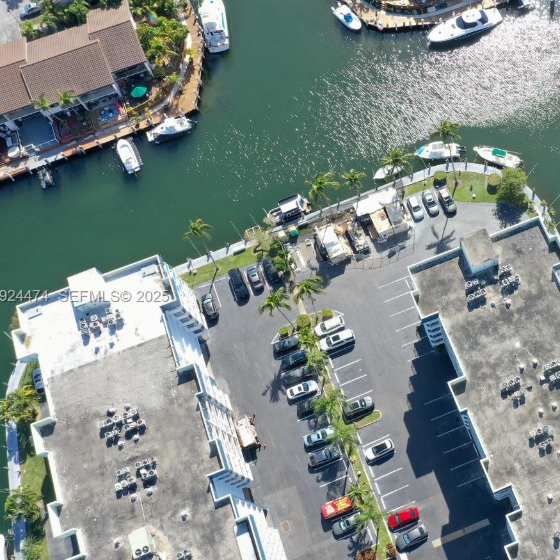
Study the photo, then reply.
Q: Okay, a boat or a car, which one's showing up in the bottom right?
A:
car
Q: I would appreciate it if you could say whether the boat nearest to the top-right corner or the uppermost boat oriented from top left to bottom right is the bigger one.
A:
the boat nearest to the top-right corner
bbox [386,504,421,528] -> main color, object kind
red car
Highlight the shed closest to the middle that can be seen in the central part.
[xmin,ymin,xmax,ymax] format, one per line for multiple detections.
[316,225,346,264]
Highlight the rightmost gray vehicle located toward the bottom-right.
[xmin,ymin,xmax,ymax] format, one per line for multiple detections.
[394,524,430,549]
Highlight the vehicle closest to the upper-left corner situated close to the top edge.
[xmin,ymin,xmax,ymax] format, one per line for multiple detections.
[17,3,45,22]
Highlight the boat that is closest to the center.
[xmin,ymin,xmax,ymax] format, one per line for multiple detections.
[267,199,312,226]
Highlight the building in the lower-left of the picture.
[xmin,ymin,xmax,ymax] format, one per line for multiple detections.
[11,255,290,560]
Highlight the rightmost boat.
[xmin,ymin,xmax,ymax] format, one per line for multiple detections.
[470,145,525,170]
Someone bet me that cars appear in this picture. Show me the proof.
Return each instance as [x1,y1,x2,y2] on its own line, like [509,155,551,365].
[319,328,356,351]
[286,382,320,401]
[394,524,430,549]
[201,292,221,322]
[17,3,45,22]
[245,265,265,294]
[293,394,323,416]
[306,447,342,468]
[386,504,421,528]
[30,367,47,397]
[437,186,457,216]
[270,332,303,355]
[363,438,398,463]
[226,265,250,301]
[301,426,335,447]
[278,347,311,371]
[260,257,284,287]
[405,193,425,223]
[420,188,439,217]
[313,314,346,337]
[280,366,313,385]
